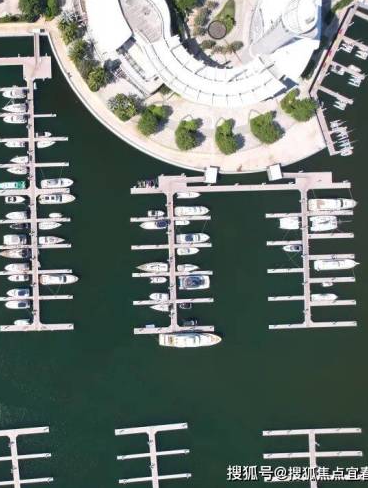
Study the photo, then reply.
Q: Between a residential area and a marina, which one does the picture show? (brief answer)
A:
marina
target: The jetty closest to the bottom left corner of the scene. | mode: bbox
[0,427,54,488]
